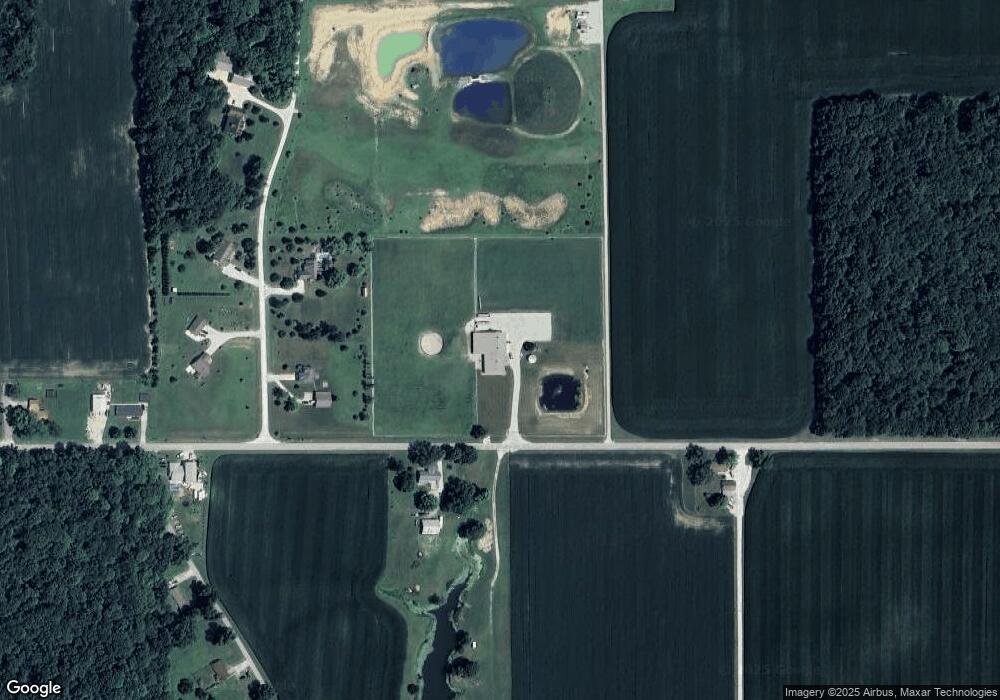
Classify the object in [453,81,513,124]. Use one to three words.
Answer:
pond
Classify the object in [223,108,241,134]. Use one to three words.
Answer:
house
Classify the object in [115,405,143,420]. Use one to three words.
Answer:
house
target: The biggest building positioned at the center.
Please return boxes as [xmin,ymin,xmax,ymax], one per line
[474,333,510,375]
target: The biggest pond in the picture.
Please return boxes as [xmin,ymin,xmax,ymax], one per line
[441,18,530,76]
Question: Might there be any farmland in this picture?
Yes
